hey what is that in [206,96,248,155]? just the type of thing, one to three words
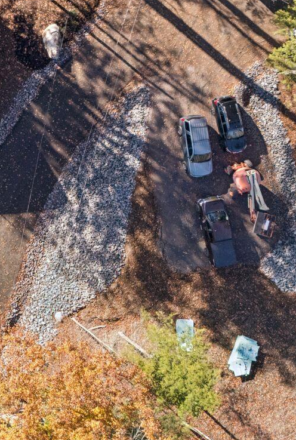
car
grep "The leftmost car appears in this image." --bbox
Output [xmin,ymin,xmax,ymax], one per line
[174,114,214,178]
